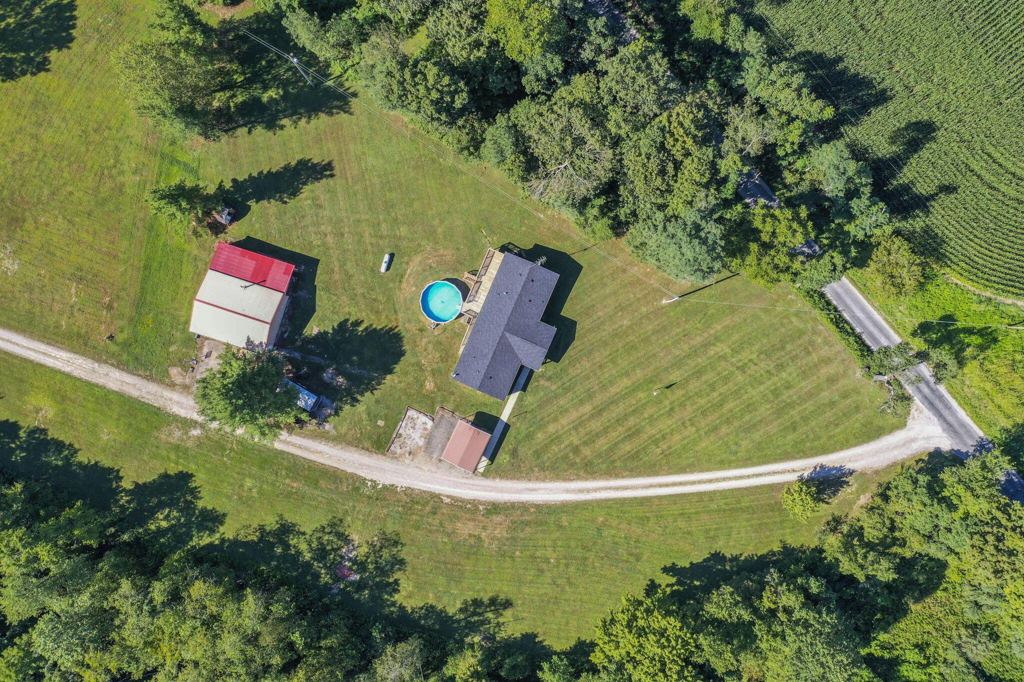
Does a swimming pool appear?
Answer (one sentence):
Yes, there's a swimming pool down there.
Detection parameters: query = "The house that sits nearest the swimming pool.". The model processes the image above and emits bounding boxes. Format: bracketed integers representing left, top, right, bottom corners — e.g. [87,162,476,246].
[450,247,560,401]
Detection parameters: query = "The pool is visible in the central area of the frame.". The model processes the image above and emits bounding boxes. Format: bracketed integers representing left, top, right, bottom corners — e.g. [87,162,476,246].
[420,280,463,323]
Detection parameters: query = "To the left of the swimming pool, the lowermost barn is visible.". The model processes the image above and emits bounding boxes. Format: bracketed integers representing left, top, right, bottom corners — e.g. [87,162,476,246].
[190,241,298,354]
